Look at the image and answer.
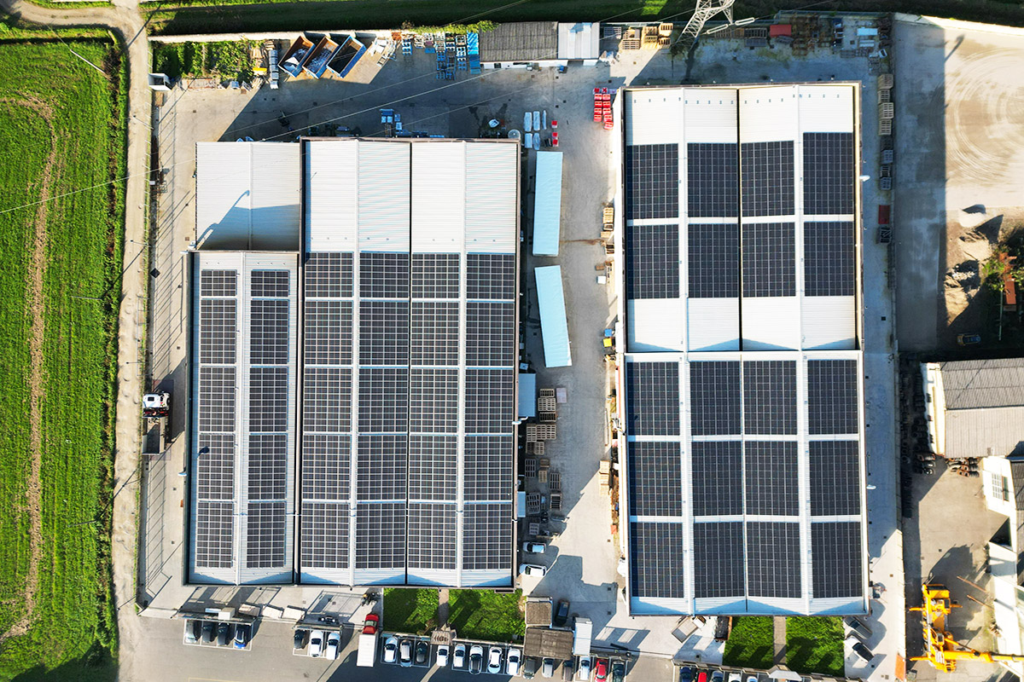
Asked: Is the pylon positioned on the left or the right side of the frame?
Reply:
right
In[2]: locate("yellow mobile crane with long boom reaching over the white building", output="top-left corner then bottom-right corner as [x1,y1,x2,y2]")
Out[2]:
[908,589,1022,672]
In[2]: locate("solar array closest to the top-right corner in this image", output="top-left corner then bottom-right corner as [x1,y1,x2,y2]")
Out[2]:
[804,132,853,214]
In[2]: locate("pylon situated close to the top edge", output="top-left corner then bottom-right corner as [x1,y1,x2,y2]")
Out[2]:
[668,0,731,61]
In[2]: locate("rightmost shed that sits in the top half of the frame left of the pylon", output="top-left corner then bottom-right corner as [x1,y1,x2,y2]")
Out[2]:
[558,21,599,67]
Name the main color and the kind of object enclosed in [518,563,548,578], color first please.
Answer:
white car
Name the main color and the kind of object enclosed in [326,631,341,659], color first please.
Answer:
white car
